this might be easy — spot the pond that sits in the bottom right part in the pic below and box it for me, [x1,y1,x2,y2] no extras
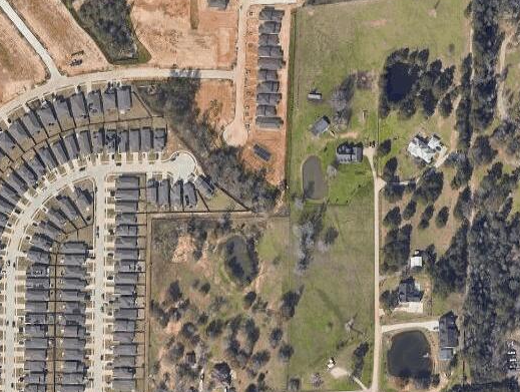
[386,328,431,385]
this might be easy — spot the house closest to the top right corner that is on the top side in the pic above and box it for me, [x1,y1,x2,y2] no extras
[406,137,446,162]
